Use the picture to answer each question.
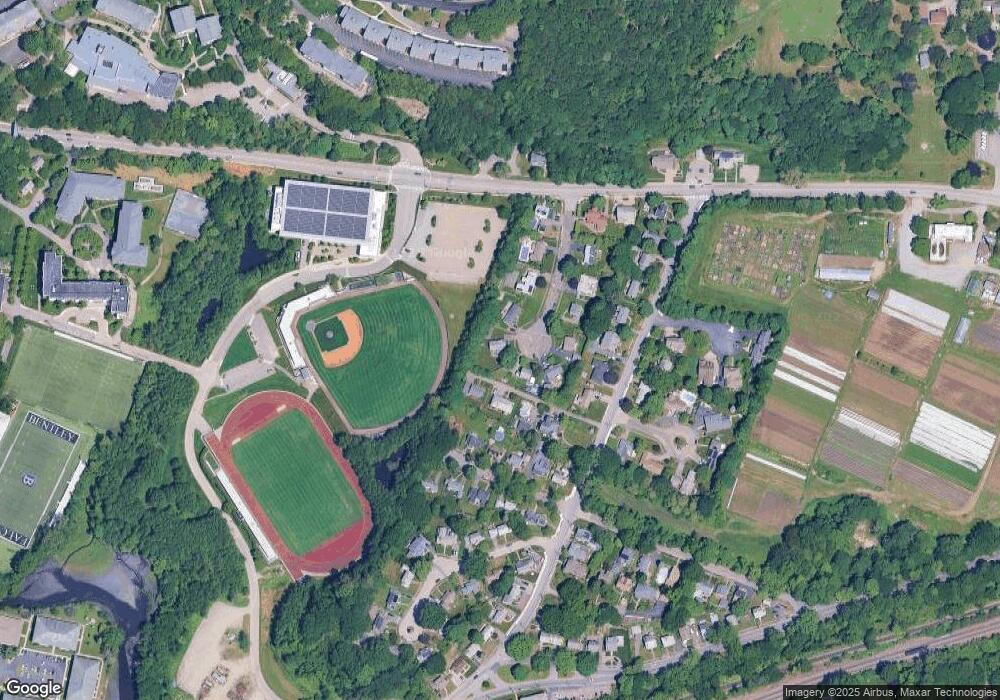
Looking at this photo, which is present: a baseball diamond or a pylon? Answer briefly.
baseball diamond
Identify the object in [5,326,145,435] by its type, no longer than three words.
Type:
sports field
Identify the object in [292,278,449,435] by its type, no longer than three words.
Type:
baseball field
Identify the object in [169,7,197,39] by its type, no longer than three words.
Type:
building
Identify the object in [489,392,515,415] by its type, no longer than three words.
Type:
house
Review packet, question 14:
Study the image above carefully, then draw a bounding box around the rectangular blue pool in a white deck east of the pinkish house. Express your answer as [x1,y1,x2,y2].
[680,388,697,406]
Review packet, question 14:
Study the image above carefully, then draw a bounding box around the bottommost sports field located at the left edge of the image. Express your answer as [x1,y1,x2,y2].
[0,398,96,552]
